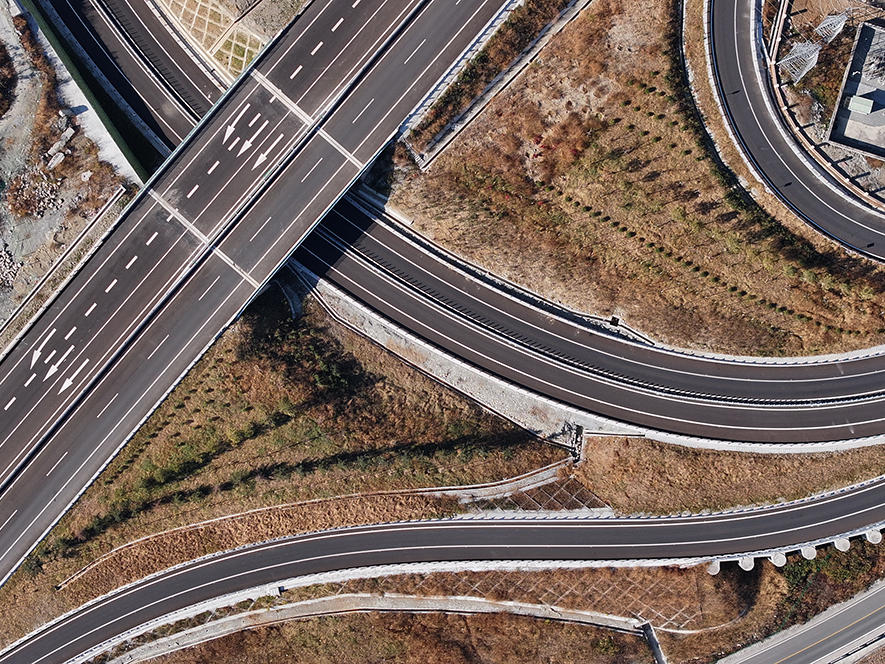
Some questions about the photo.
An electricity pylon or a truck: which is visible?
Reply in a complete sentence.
Visible in the photo is an electricity pylon.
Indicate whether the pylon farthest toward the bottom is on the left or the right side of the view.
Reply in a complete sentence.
You can find the pylon farthest toward the bottom on the right side of the picture.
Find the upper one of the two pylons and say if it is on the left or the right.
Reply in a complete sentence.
The upper one of the two pylons appears in the right half of the scene.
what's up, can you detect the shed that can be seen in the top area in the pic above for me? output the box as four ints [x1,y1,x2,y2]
[843,95,874,117]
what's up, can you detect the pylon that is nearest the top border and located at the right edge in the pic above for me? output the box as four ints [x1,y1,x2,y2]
[816,1,860,43]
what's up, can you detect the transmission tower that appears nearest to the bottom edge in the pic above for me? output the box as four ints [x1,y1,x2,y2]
[779,34,828,84]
